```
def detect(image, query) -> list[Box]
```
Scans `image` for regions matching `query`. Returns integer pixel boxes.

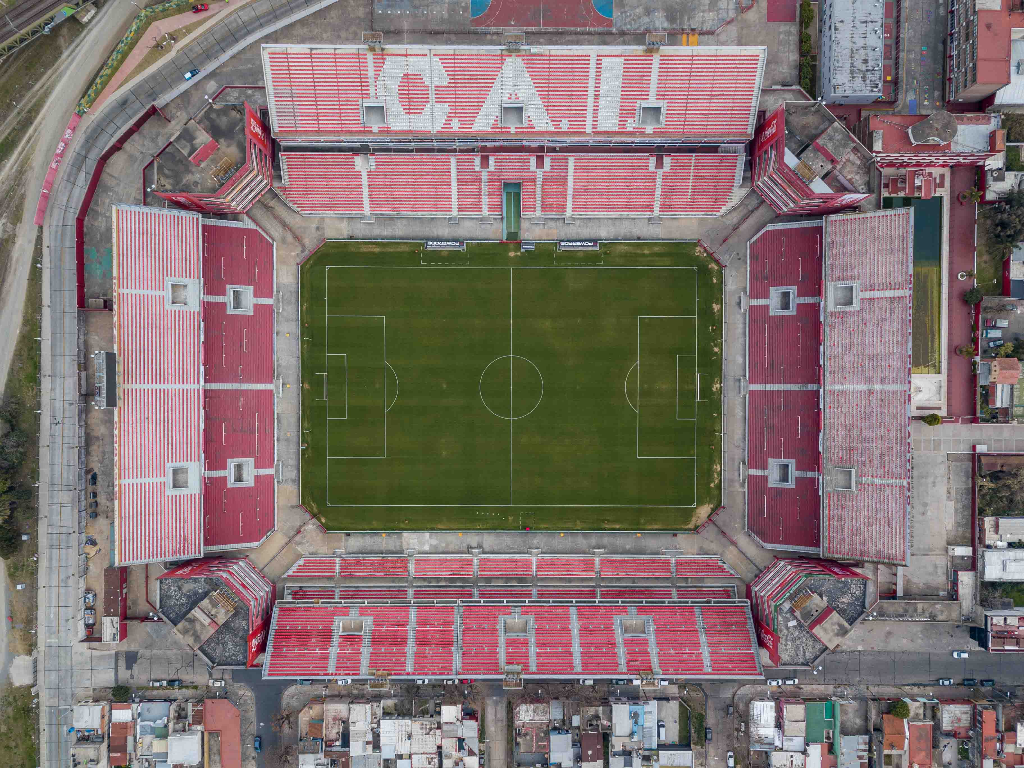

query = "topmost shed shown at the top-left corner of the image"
[74,5,102,29]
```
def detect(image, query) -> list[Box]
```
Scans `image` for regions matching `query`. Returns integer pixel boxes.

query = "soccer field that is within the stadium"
[300,241,722,532]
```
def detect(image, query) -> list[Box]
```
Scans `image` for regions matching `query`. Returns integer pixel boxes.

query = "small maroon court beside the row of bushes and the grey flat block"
[767,0,797,22]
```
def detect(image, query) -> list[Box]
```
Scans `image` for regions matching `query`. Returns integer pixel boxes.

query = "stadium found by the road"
[111,44,914,680]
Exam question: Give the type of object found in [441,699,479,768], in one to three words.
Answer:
house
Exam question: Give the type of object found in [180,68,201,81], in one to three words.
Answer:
vehicle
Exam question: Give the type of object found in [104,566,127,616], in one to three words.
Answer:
shed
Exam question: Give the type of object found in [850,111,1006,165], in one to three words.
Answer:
building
